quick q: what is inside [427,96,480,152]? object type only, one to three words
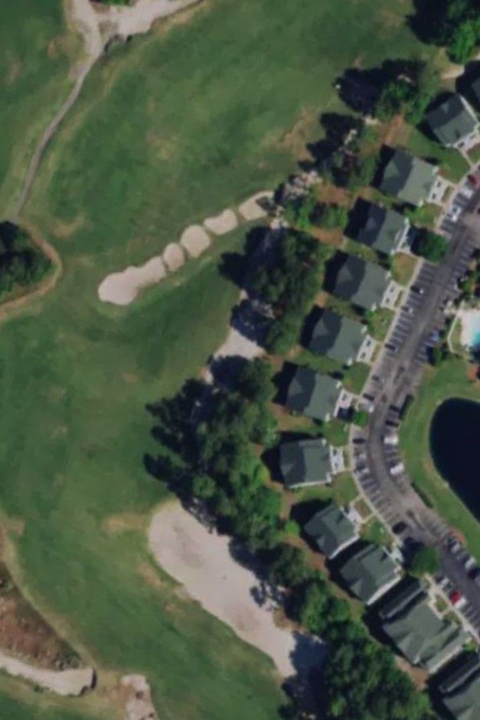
house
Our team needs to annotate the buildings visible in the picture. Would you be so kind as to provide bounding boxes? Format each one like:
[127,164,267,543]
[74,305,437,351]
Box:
[380,149,445,209]
[309,309,374,365]
[343,544,406,604]
[286,367,352,422]
[281,439,341,488]
[357,203,417,257]
[427,96,480,152]
[335,257,399,313]
[305,502,364,558]
[384,584,469,673]
[446,658,480,720]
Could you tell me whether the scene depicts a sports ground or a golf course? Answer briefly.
golf course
